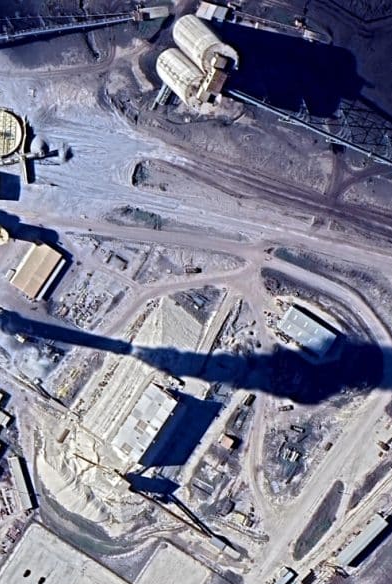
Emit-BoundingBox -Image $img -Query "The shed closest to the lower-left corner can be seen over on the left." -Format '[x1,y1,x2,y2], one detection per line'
[8,455,32,511]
